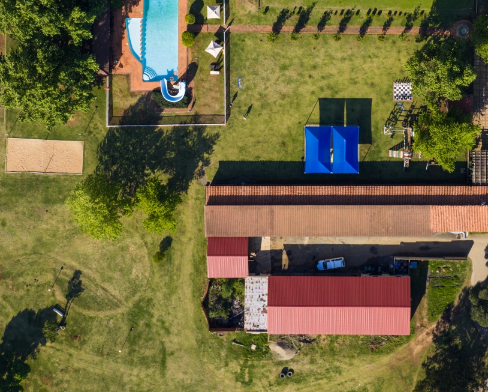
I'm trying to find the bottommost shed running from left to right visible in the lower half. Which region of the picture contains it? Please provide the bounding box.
[269,271,410,336]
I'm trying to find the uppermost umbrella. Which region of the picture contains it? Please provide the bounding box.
[207,6,222,19]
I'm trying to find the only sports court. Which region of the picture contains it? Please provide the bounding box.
[6,139,83,177]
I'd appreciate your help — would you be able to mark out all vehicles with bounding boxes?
[317,258,345,270]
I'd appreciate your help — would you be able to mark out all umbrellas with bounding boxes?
[205,41,224,59]
[207,6,222,19]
